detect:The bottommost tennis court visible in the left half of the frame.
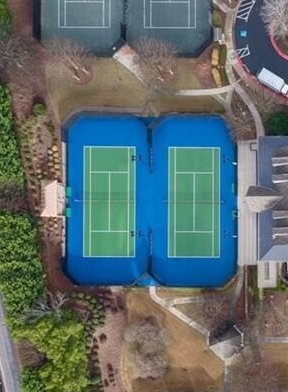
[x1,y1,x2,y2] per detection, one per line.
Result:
[68,114,151,286]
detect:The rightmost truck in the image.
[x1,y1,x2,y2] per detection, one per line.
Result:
[257,66,288,96]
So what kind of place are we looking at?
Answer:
sports ground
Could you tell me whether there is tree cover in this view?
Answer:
Yes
